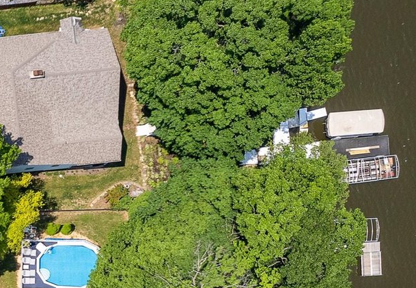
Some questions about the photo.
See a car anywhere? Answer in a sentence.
No, the scene contains no car.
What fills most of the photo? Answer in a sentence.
Most of the picture is covered by trees.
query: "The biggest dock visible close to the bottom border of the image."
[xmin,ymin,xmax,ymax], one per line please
[358,251,383,275]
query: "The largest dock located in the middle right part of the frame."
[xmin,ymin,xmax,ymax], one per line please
[338,134,391,157]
